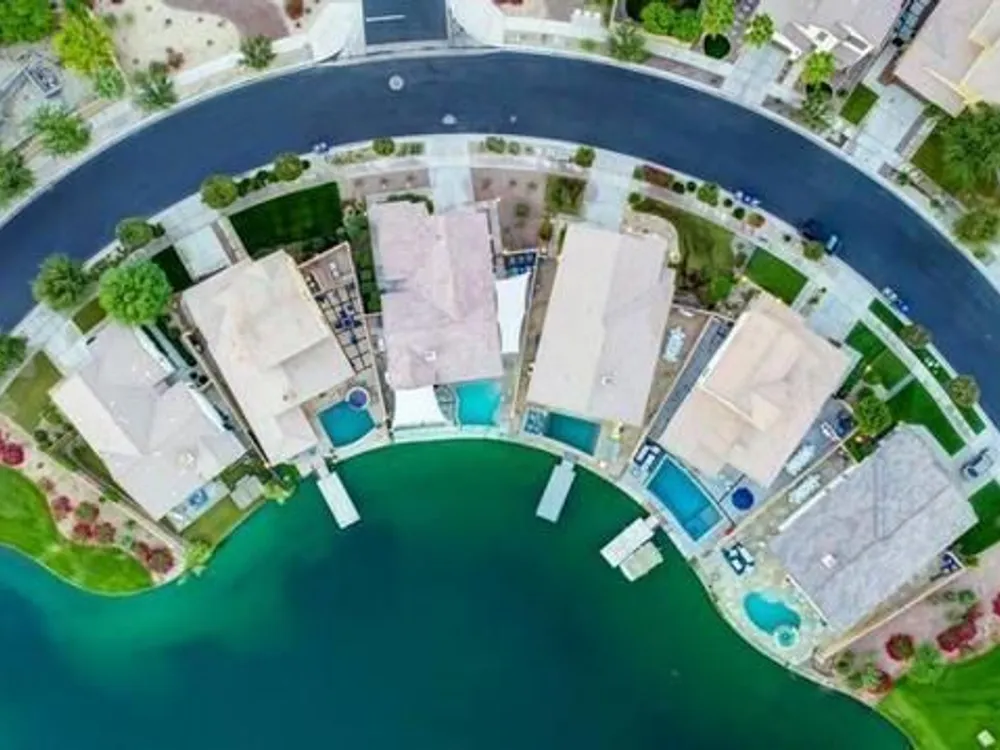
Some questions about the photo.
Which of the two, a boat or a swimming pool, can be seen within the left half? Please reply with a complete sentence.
You can see a swimming pool within the left half.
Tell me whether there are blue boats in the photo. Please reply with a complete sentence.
No, there is no blue boat in the image.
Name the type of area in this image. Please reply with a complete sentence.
The area seen from above is a residential area.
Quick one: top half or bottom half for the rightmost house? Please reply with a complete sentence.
Seen from above, the rightmost house lies in the top half of the view.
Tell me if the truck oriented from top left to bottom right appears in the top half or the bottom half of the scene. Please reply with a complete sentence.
The top half of the photo is where the truck oriented from top left to bottom right is.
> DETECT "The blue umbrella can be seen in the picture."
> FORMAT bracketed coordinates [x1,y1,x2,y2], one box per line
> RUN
[730,487,753,510]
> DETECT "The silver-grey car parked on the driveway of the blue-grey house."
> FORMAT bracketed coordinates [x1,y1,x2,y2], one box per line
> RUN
[957,448,997,481]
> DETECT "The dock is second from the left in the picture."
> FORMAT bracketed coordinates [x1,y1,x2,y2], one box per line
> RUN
[536,458,578,522]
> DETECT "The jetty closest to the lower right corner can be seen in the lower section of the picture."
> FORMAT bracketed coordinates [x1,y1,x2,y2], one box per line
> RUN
[602,514,656,565]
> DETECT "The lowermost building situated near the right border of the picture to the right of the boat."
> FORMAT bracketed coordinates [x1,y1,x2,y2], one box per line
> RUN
[763,422,982,633]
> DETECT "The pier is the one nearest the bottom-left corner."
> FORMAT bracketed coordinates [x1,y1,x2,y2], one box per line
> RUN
[315,467,359,527]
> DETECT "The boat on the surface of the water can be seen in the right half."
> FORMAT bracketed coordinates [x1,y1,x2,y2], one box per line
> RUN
[619,541,662,582]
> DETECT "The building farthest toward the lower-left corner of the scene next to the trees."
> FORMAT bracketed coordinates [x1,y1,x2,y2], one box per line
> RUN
[51,322,246,521]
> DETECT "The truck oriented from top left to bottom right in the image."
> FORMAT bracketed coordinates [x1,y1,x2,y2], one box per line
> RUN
[804,217,842,249]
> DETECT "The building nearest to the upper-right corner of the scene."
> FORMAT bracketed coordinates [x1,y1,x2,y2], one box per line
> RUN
[893,0,1000,118]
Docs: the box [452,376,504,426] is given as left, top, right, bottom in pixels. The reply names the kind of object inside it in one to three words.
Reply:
swimming pool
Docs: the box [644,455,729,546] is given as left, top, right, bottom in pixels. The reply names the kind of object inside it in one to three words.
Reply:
swimming pool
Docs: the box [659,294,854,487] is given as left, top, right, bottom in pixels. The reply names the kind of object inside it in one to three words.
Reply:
house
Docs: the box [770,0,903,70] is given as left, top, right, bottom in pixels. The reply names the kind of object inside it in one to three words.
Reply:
house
